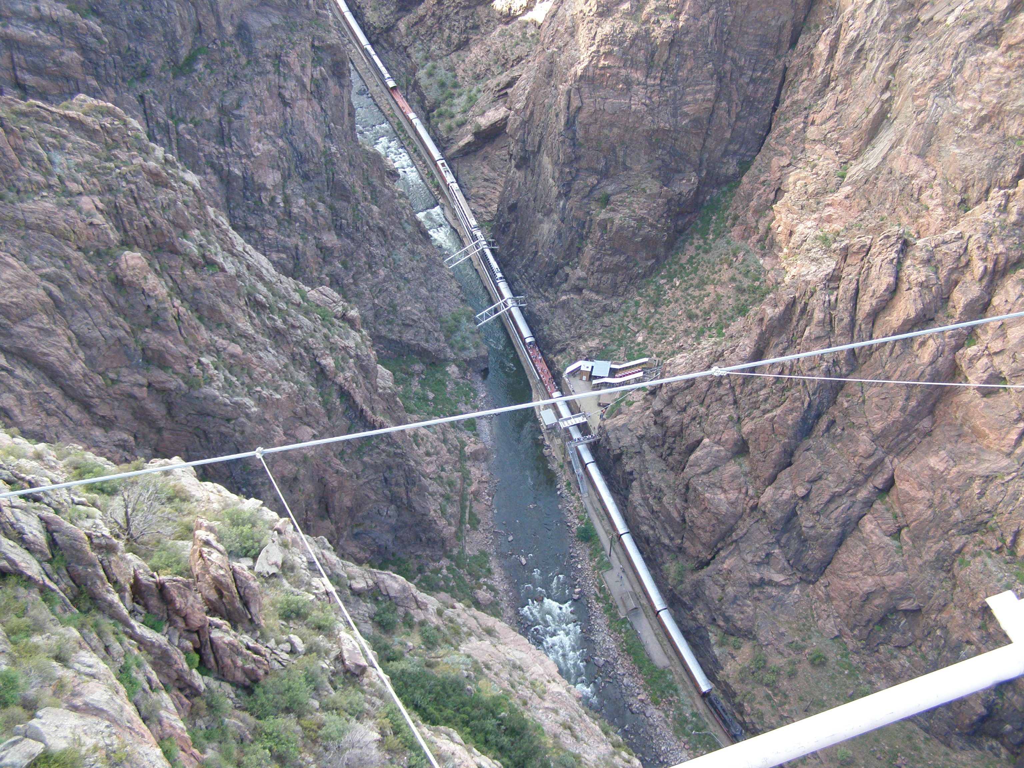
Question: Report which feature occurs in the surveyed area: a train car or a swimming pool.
train car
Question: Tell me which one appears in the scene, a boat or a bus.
bus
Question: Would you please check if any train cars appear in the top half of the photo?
Yes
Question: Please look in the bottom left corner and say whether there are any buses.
No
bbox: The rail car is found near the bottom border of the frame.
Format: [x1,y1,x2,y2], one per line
[701,694,740,747]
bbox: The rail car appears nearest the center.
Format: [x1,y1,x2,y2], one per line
[525,336,561,398]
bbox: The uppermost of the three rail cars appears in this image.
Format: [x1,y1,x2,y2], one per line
[387,80,418,125]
